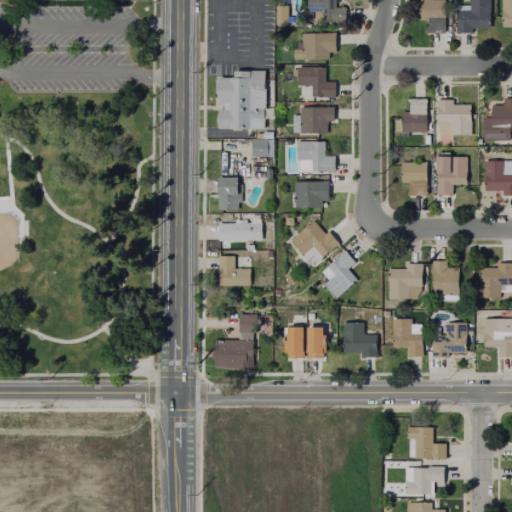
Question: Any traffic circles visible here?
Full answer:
No, there isn't any traffic circle down there.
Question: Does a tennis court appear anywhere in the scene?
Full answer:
No, I can see no tennis court in this picture.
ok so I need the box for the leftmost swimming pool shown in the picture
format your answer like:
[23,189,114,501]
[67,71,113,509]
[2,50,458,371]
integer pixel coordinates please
[247,184,262,208]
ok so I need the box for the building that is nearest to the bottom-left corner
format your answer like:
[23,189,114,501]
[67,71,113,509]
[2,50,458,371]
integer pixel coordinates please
[214,340,256,370]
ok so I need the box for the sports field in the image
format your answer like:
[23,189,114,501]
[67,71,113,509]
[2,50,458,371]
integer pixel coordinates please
[0,197,29,270]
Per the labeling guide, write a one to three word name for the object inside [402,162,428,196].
house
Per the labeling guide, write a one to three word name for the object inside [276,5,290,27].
shed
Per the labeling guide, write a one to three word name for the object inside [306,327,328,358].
house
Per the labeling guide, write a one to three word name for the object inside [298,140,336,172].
building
